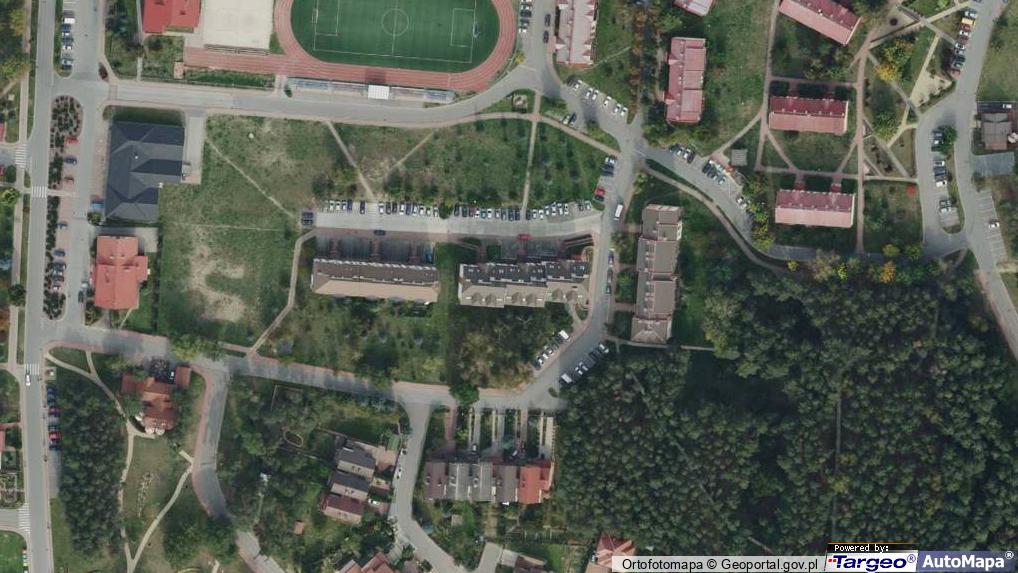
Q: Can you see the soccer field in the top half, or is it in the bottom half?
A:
top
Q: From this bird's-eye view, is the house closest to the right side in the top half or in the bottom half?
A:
top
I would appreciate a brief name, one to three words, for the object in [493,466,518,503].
house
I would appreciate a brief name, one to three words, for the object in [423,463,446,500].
house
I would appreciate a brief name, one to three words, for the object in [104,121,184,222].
building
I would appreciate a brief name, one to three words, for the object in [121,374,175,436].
building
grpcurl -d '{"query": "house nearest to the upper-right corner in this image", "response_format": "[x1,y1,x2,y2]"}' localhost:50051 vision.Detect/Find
[983,113,1013,150]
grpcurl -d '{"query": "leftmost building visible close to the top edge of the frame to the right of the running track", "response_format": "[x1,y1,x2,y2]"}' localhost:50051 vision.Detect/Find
[556,0,598,68]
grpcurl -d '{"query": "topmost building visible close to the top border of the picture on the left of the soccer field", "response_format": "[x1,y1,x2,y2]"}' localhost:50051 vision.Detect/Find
[140,0,200,34]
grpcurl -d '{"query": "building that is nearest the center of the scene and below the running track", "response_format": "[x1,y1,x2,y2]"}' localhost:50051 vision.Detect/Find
[458,262,590,307]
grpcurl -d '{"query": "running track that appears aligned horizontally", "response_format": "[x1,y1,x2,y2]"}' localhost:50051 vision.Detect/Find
[183,0,514,89]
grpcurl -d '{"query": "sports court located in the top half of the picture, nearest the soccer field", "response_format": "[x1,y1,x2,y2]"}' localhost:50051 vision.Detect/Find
[204,0,273,50]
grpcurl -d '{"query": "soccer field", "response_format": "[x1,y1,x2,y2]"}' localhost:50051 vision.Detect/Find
[291,0,497,72]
